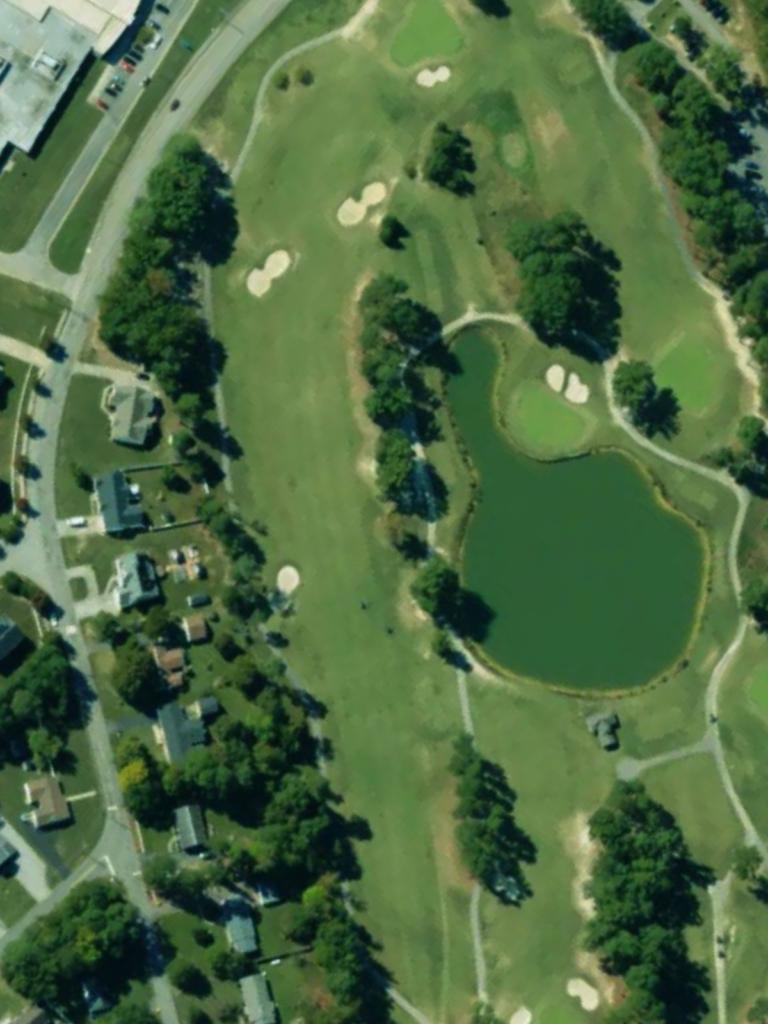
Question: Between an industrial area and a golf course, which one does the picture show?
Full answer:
What you see here is a golf course.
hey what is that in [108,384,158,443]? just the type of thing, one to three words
house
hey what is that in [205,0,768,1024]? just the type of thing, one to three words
golf course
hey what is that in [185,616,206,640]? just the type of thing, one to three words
building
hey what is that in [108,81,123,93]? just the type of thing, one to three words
vehicle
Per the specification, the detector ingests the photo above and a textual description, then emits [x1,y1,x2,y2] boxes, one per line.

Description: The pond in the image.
[449,330,705,689]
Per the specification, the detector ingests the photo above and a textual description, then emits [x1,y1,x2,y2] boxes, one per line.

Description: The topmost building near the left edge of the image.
[0,0,138,154]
